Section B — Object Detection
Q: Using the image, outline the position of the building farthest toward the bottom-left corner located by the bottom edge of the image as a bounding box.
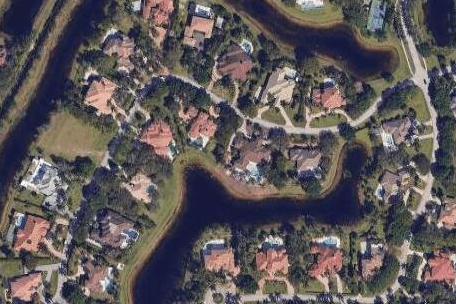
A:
[10,271,44,303]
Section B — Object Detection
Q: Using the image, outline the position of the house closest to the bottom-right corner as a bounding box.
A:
[425,249,456,287]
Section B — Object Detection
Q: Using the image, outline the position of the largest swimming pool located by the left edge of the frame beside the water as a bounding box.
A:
[22,155,64,197]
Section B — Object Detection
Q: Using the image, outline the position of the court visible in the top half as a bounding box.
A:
[367,0,387,36]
